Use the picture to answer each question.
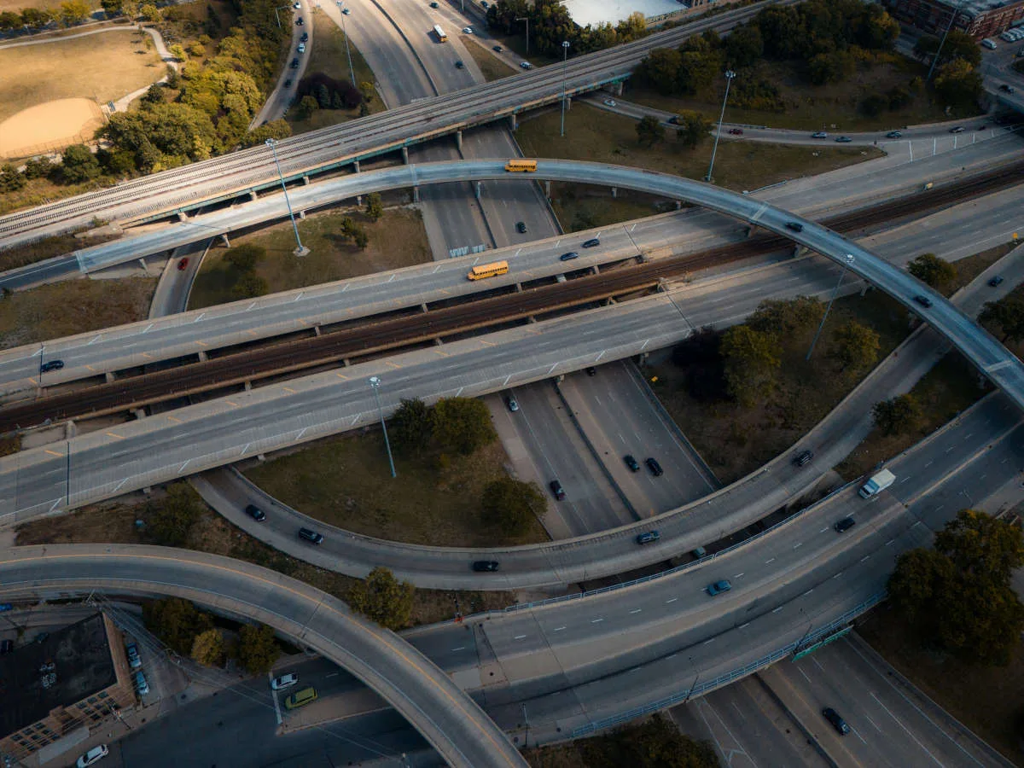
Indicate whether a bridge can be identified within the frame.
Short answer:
Yes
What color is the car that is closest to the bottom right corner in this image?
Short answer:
black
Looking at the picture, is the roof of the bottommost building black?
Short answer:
Yes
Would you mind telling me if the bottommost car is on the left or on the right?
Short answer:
left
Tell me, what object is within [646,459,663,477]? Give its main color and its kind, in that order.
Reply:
black car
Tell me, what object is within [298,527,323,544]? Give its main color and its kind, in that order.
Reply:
black car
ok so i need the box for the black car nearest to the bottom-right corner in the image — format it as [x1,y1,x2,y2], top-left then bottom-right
[821,707,852,738]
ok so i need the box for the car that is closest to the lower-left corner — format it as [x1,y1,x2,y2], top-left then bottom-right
[72,741,112,768]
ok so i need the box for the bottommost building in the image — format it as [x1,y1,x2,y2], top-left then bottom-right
[0,611,132,766]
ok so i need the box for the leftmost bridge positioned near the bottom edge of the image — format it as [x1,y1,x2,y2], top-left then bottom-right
[0,543,532,768]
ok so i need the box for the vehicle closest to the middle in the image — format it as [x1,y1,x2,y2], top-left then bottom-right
[506,395,518,410]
